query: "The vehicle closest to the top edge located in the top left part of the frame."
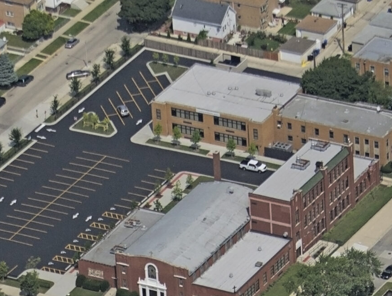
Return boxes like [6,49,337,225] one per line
[63,36,80,50]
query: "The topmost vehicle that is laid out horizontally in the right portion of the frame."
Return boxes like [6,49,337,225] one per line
[239,159,267,173]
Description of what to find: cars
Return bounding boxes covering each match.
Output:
[18,75,35,88]
[115,104,130,117]
[63,36,80,50]
[380,265,392,280]
[0,96,6,106]
[67,70,89,80]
